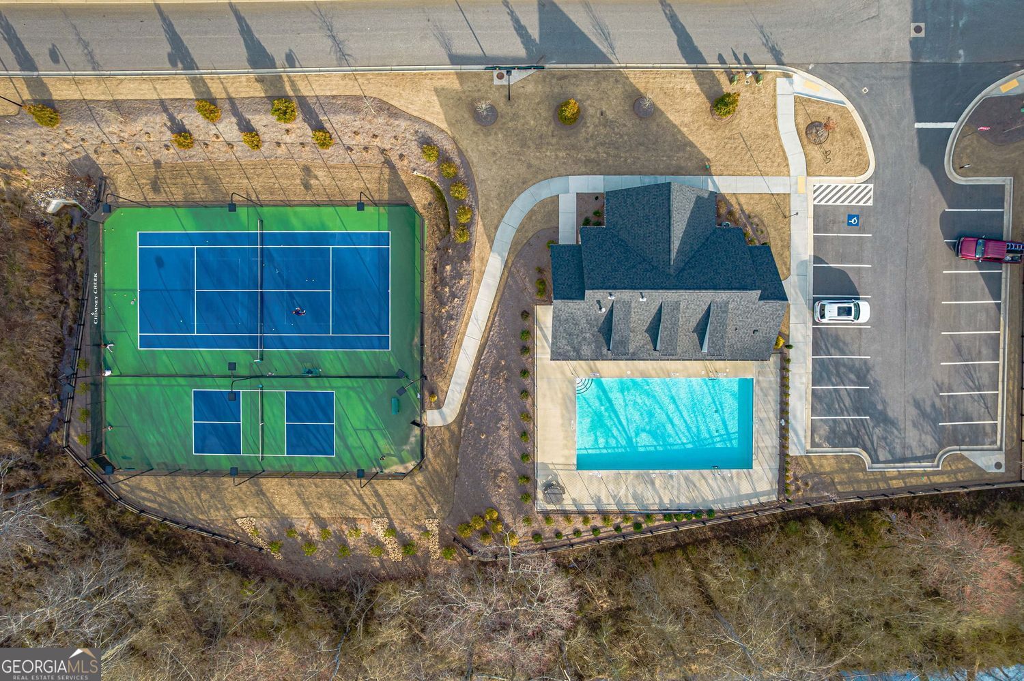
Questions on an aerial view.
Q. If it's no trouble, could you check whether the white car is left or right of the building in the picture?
right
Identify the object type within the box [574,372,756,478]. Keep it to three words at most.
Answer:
swimming pool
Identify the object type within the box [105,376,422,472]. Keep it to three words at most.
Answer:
sports court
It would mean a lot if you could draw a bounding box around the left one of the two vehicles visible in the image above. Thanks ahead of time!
[813,298,869,325]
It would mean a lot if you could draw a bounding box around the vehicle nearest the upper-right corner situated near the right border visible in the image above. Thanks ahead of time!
[953,236,1024,264]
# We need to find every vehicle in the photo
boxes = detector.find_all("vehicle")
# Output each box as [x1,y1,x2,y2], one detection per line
[813,298,869,325]
[953,236,1024,264]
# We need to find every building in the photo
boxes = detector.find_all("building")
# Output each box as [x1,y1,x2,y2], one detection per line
[550,181,788,361]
